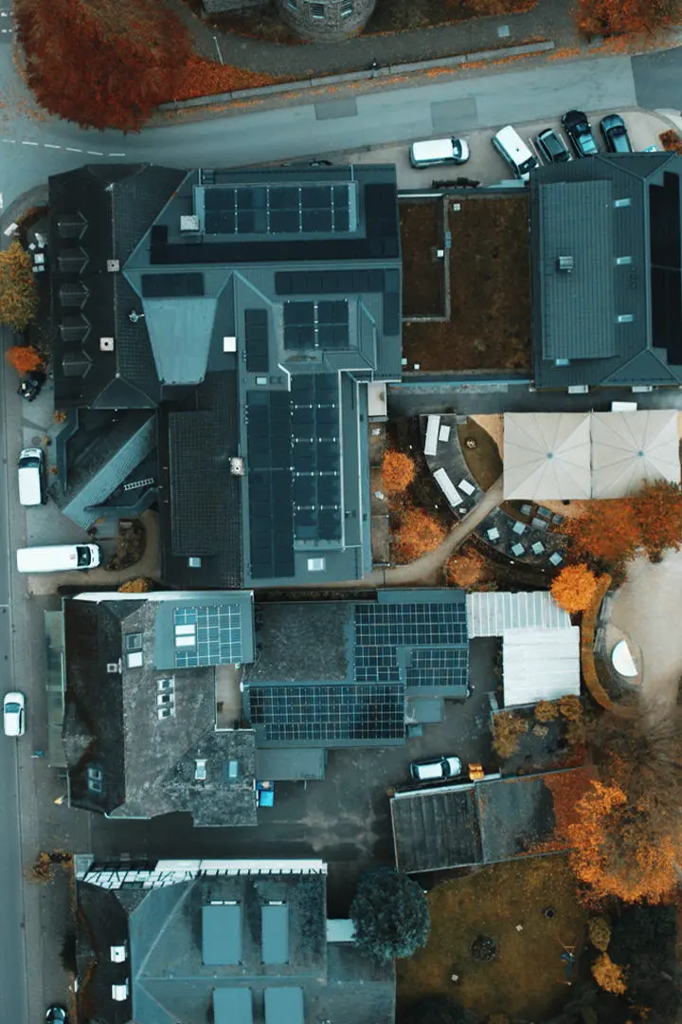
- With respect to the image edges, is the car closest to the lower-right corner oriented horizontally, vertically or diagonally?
horizontally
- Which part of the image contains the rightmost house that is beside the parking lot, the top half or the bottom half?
top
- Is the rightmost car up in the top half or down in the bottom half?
top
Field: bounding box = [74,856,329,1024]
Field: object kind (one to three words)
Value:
house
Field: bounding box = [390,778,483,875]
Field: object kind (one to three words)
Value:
building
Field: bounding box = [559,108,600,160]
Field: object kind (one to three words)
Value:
car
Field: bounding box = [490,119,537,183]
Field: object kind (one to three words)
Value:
van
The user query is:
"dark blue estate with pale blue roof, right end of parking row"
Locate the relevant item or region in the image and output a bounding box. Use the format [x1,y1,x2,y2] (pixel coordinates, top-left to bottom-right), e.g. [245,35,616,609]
[599,109,631,155]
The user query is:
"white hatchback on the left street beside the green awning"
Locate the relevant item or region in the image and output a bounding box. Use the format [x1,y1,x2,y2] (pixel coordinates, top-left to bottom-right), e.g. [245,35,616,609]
[0,691,27,738]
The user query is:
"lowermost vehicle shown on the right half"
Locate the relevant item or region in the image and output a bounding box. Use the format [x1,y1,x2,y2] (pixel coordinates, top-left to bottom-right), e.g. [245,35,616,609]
[409,754,462,782]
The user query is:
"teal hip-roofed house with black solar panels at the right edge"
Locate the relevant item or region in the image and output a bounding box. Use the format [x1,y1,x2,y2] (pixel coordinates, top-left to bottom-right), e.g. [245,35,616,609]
[528,154,682,393]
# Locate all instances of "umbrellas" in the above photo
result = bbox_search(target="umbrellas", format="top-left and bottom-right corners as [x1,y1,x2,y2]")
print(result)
[592,410,681,498]
[503,412,591,499]
[35,234,45,249]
